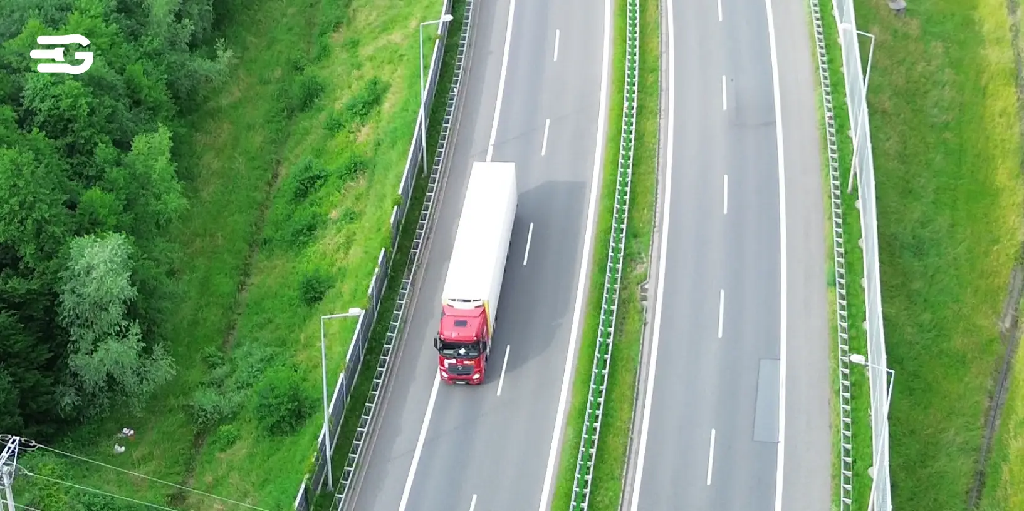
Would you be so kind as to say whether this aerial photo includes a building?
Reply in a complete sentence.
No, I can see no building in this picture.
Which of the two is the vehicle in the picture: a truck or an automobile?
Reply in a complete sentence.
The vehicle in the image is a truck.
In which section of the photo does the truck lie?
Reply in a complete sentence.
The truck is located in the center region of the scene.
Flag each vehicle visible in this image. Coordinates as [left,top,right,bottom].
[431,162,515,384]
